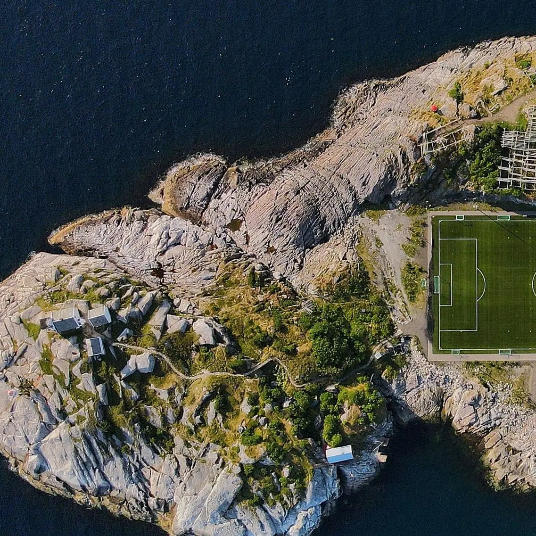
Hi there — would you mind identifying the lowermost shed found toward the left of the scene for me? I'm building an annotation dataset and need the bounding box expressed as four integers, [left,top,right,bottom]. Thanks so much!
[85,336,105,357]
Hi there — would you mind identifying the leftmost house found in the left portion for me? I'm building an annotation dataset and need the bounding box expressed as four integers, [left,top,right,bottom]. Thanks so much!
[40,305,86,335]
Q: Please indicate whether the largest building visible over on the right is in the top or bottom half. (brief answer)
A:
bottom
